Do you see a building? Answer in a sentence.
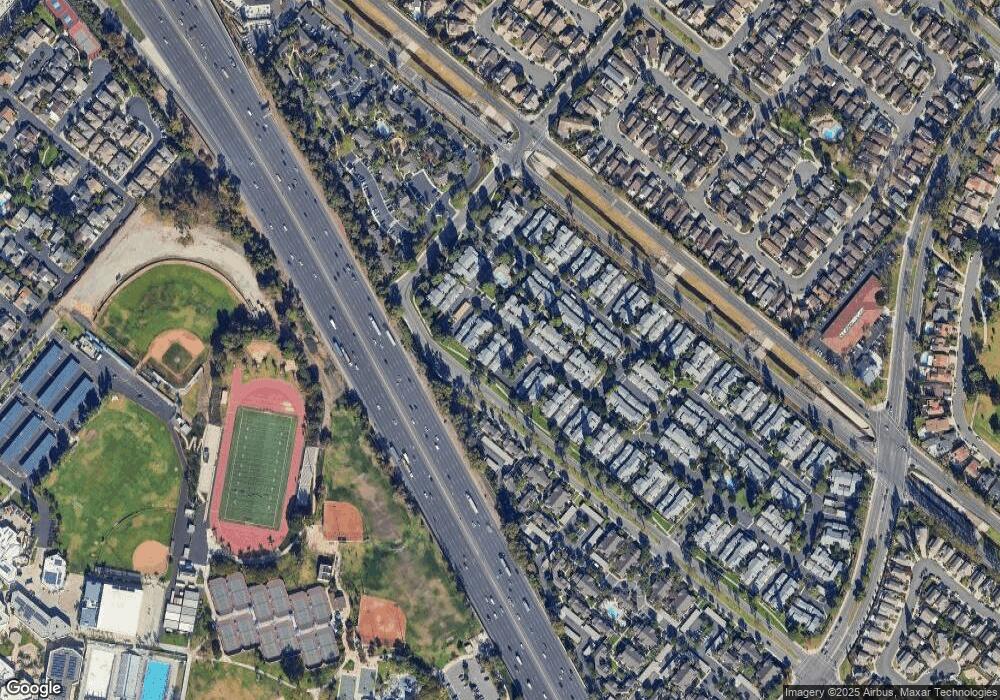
Yes, there's a building down there.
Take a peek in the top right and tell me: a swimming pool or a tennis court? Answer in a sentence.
Looking in the top right, you will find a swimming pool.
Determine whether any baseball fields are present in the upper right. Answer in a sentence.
No, no baseball field appears in the upper right.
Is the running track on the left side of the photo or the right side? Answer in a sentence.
The running track appears in the left half of the scene.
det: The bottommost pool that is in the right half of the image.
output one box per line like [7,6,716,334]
[604,599,622,620]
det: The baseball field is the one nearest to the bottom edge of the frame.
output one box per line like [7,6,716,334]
[358,596,405,644]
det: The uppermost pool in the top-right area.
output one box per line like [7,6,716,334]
[812,122,842,142]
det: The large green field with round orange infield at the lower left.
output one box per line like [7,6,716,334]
[46,397,180,575]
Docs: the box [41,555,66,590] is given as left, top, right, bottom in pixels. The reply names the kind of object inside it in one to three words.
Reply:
building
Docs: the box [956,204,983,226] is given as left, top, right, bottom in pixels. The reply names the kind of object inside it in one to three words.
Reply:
house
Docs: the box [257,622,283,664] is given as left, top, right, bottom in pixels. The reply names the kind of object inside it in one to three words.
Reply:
tennis court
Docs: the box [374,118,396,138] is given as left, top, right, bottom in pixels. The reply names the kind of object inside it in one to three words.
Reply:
swimming pool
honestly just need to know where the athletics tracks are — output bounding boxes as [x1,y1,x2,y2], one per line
[209,368,306,555]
